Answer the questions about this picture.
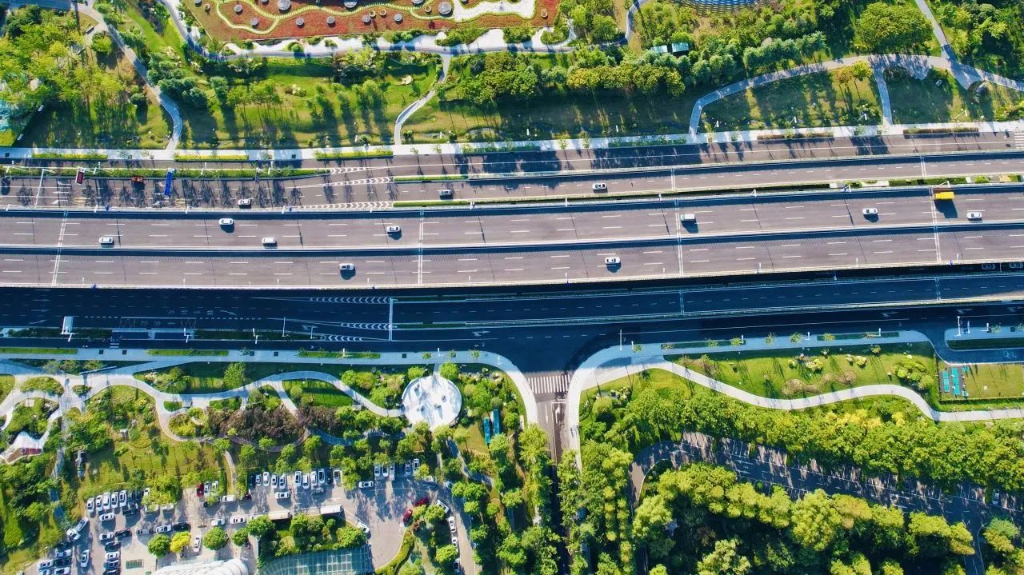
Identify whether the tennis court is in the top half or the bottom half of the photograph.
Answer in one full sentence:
The tennis court is in the bottom half of the image.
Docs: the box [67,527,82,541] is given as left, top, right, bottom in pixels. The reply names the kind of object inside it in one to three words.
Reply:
car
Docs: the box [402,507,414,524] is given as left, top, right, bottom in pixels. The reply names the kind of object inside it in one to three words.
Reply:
vehicle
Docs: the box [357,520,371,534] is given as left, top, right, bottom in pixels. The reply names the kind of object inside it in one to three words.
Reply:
car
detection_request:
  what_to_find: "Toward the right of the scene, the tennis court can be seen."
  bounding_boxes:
[941,366,966,398]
